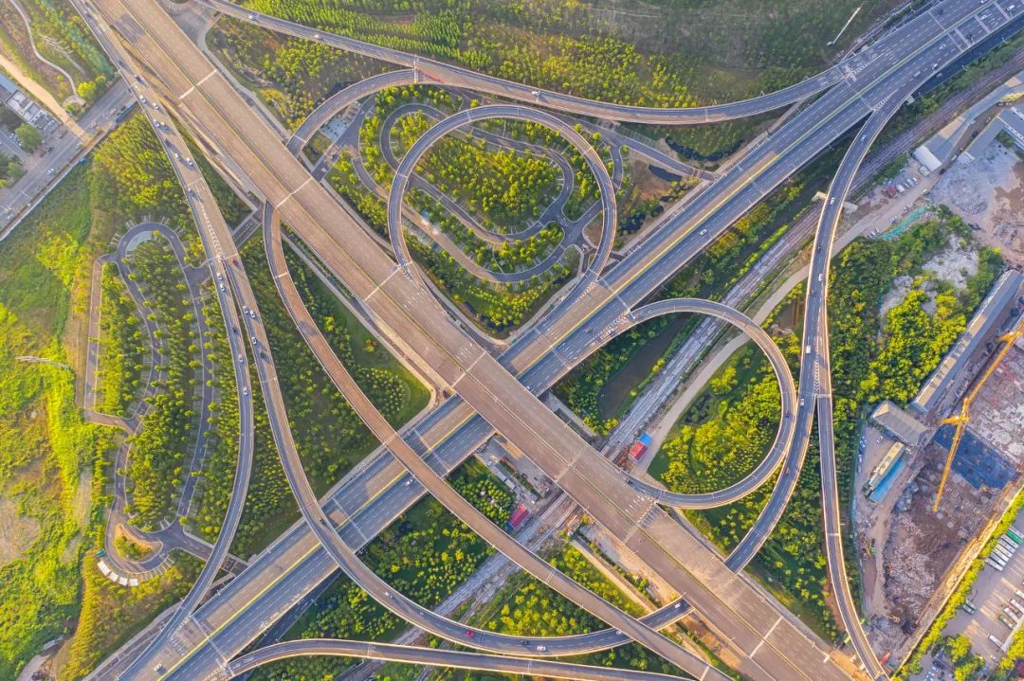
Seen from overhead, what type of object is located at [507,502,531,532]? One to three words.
shed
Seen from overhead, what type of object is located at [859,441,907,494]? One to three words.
building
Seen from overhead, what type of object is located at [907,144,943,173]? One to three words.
building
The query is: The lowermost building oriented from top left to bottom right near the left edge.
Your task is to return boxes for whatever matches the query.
[6,90,70,139]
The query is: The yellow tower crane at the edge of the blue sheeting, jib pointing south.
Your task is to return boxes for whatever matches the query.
[932,398,983,511]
